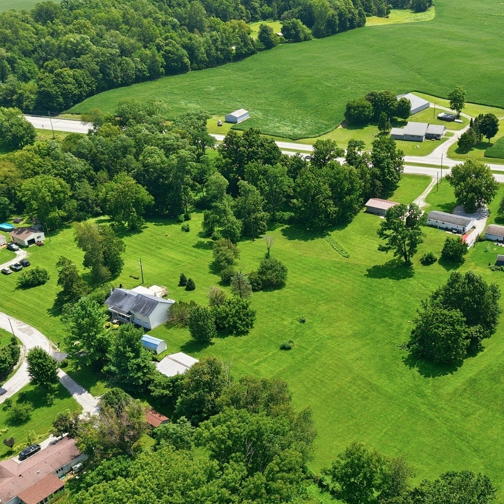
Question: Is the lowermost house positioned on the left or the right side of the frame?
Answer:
left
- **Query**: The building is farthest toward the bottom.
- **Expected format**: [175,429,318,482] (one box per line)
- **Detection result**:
[0,438,88,504]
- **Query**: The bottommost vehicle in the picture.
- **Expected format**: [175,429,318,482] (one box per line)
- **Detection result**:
[15,439,43,459]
